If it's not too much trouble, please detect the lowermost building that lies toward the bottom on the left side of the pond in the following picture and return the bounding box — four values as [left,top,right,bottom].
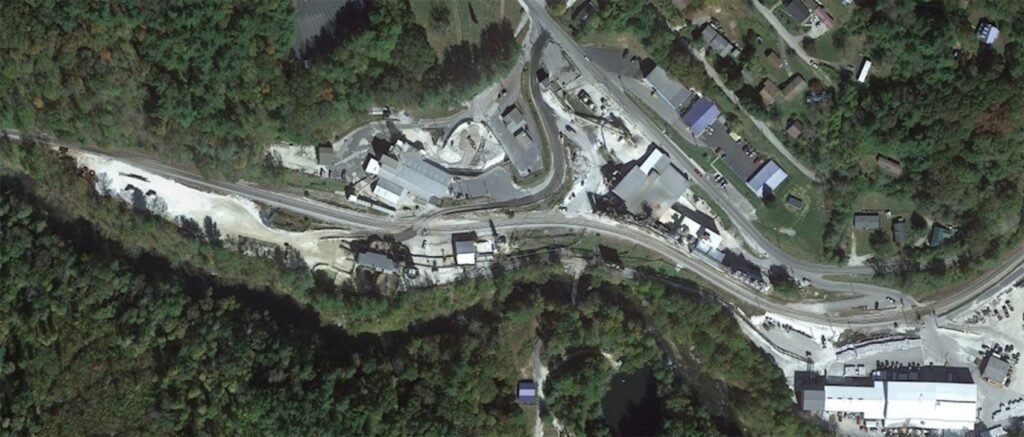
[519,382,536,404]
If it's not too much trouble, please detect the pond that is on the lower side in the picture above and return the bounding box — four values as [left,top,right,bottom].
[601,370,653,437]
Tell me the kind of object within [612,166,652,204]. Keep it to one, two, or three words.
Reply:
building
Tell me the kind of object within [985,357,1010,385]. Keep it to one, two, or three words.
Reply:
building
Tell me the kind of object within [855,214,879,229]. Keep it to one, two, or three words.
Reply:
house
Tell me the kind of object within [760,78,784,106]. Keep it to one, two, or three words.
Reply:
house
